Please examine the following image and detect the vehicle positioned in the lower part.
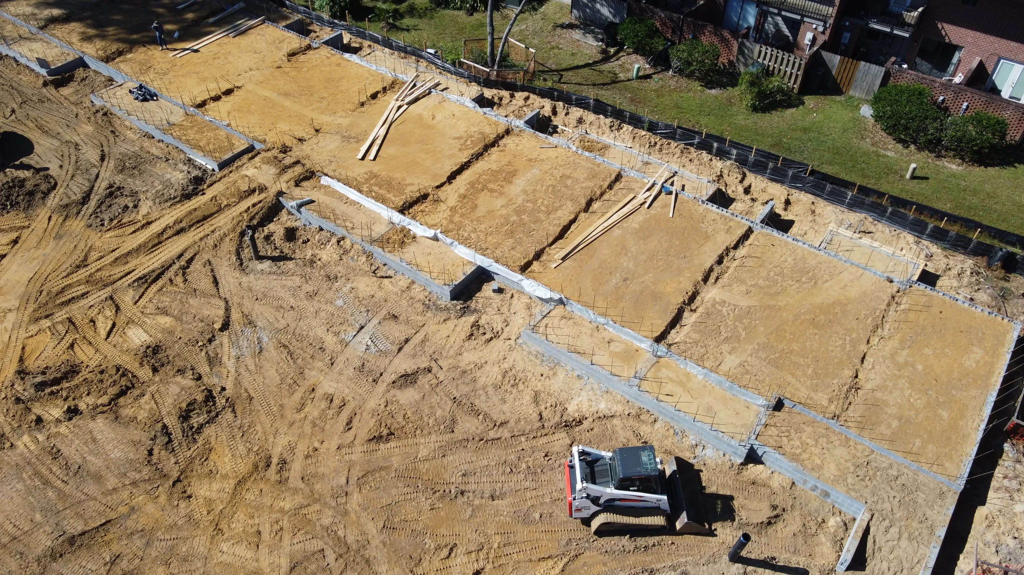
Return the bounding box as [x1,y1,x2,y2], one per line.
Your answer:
[565,439,711,539]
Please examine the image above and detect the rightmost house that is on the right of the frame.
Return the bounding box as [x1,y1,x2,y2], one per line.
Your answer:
[896,0,1024,95]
